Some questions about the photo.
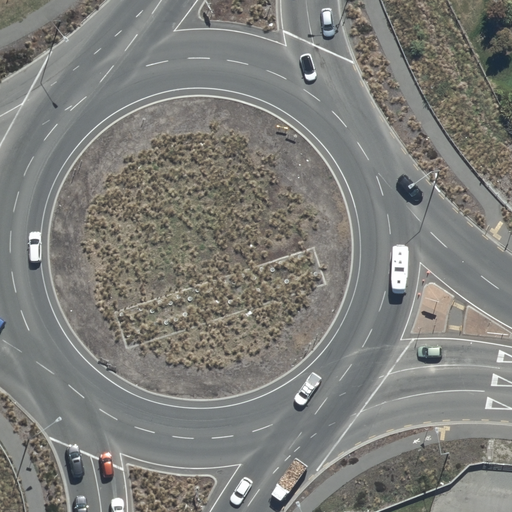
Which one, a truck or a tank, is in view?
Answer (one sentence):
Of the two, only a truck appears.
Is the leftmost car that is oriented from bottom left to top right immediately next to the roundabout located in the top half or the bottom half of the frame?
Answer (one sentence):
The leftmost car that is oriented from bottom left to top right immediately next to the roundabout sits in the bottom half of the picture.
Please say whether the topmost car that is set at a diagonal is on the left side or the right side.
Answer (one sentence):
It is on the right.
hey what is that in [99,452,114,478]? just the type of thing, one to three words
car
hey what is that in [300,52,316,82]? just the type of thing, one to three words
car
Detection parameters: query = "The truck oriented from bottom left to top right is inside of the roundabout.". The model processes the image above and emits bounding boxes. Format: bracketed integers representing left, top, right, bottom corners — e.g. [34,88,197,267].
[295,372,322,406]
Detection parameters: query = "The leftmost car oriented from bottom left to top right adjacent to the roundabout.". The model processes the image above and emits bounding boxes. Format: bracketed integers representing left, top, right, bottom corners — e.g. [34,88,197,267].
[229,476,254,506]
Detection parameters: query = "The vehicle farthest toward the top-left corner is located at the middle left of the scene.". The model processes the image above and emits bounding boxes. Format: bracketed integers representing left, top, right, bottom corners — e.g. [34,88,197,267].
[28,232,42,262]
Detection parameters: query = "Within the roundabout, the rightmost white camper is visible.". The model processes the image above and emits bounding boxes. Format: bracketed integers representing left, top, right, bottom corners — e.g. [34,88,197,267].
[390,243,408,294]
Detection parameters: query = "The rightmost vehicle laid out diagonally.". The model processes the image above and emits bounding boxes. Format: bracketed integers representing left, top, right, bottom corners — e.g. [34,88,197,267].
[396,172,422,204]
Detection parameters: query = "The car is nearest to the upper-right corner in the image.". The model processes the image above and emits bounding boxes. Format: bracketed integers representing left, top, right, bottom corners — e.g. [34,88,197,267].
[320,8,335,38]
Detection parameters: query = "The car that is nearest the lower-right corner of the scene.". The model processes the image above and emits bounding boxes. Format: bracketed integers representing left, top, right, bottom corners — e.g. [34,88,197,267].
[417,344,442,358]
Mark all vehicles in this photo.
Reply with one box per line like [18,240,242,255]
[390,243,408,294]
[300,52,316,82]
[229,476,254,506]
[417,344,442,358]
[28,232,42,262]
[320,8,335,38]
[74,496,88,512]
[68,444,84,478]
[396,172,422,204]
[110,498,125,512]
[295,372,322,406]
[99,452,114,478]
[270,458,308,503]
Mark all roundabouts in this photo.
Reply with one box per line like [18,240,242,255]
[0,29,420,467]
